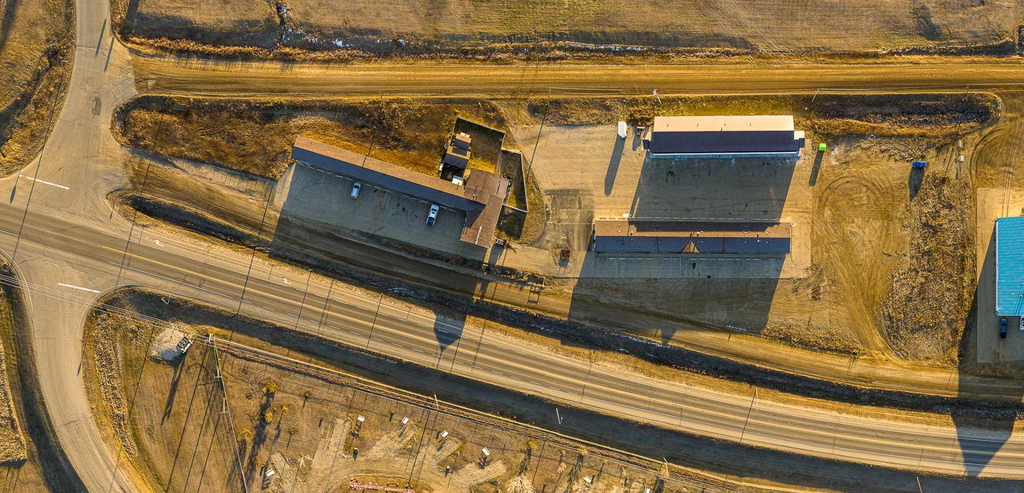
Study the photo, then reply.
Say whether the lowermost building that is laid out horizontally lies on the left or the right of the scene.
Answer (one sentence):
The lowermost building that is laid out horizontally sits on the right side.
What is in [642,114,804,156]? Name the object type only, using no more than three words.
building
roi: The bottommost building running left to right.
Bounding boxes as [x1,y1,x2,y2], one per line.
[595,221,791,253]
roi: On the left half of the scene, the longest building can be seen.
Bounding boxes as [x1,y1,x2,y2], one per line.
[292,136,509,249]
